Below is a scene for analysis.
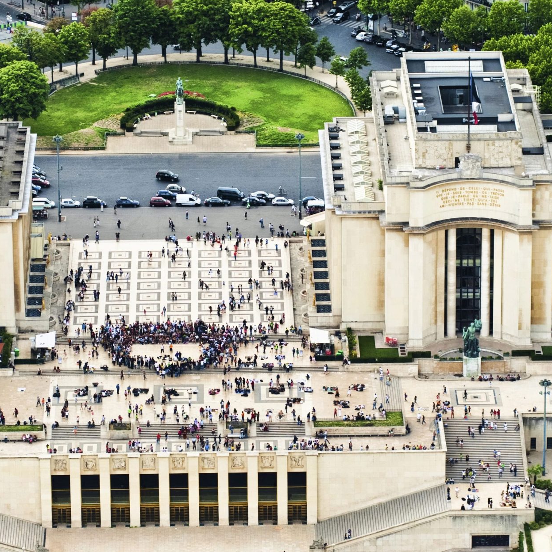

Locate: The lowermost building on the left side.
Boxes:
[38,447,319,528]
